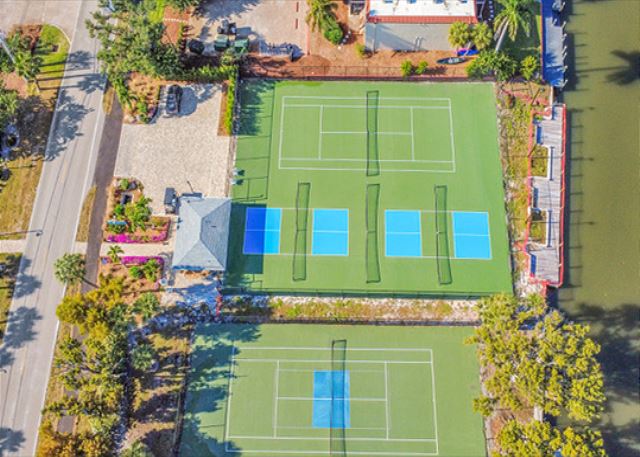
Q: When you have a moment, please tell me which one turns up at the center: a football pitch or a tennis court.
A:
tennis court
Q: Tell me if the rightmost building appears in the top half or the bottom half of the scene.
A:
top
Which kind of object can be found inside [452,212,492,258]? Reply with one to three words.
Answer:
sports court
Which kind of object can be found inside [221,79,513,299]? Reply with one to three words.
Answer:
tennis court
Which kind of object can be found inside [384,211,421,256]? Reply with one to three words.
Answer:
sports court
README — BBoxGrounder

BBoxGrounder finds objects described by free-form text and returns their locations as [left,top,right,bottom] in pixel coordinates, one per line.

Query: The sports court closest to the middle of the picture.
[312,209,349,255]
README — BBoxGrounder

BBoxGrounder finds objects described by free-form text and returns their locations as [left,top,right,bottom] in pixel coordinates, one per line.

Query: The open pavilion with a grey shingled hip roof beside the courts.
[171,197,234,271]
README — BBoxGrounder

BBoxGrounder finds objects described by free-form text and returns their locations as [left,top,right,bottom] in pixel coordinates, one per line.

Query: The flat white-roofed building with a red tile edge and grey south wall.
[360,0,475,56]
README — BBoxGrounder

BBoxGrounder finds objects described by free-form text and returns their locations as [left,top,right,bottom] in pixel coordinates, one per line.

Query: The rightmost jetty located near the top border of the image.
[542,0,564,86]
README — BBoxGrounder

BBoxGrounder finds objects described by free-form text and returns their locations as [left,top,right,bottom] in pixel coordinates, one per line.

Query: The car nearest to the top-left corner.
[161,84,181,114]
